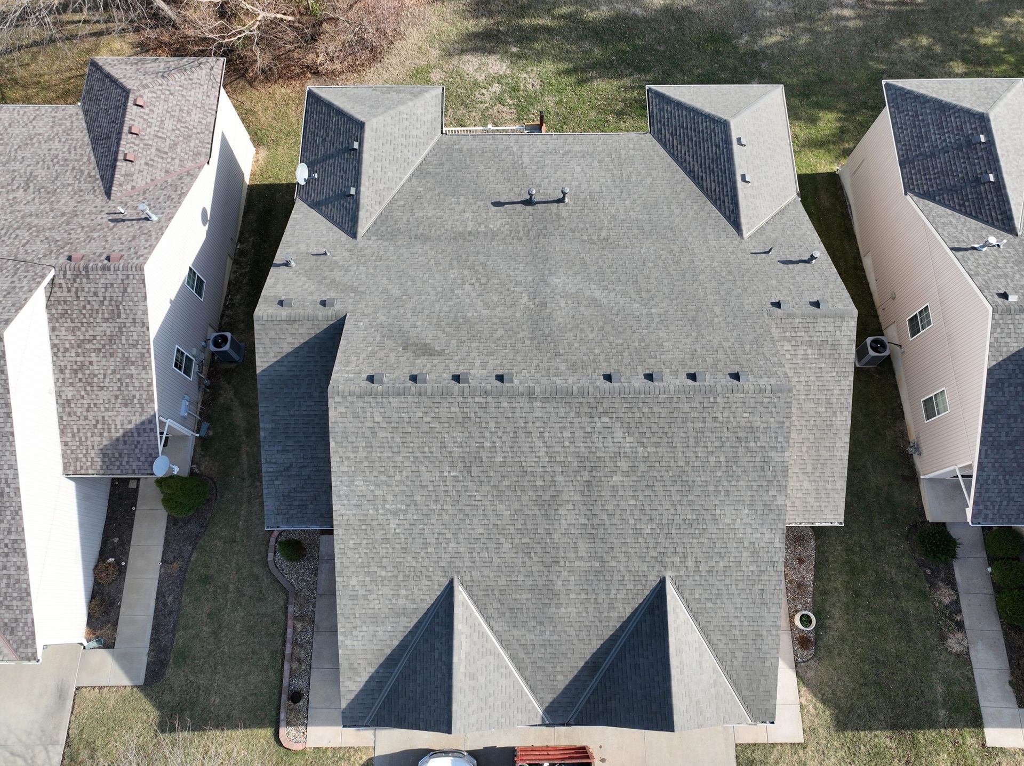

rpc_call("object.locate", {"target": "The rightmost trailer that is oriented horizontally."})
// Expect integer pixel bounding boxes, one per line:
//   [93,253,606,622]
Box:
[516,745,592,766]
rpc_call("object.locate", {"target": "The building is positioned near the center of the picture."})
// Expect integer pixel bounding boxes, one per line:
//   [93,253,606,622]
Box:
[253,82,858,735]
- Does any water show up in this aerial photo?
No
